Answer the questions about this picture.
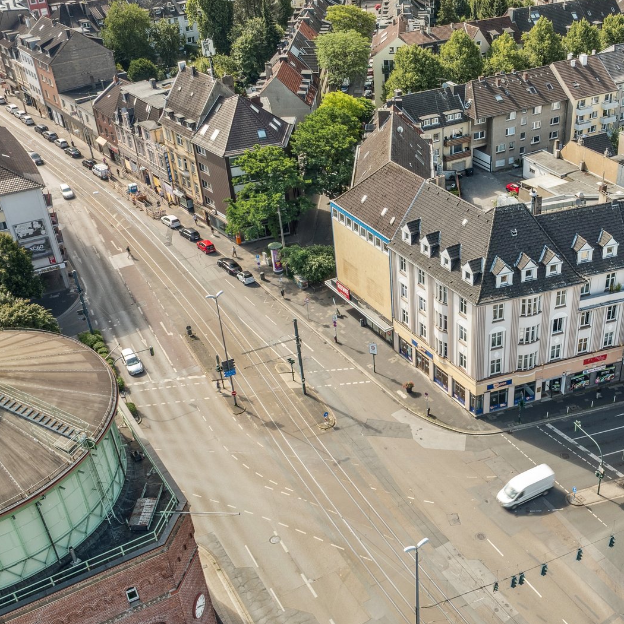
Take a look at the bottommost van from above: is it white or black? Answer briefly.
white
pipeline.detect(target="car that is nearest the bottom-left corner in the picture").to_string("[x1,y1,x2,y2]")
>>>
[119,345,144,376]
